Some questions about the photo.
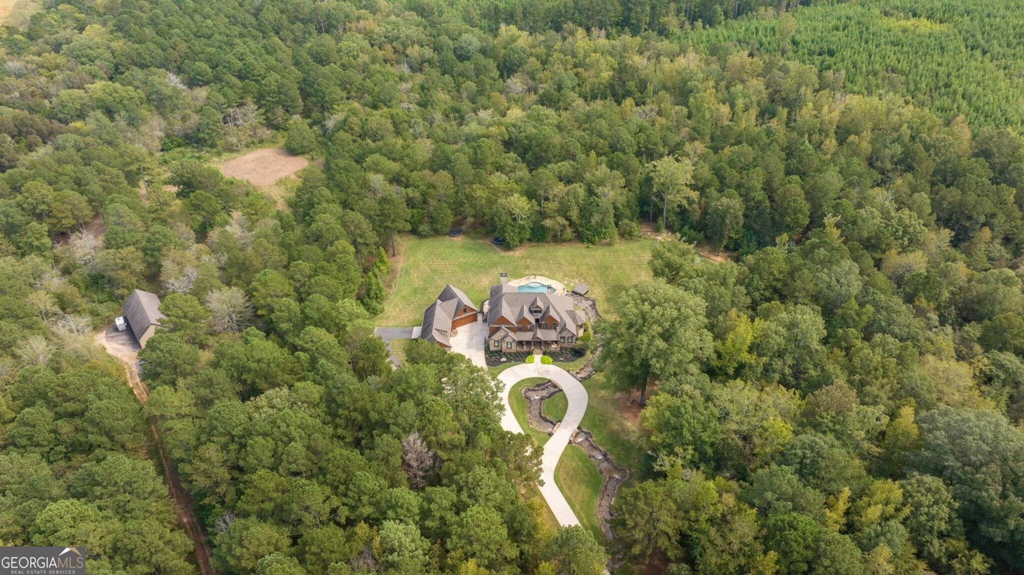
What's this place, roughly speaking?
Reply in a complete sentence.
The area seen from above is a forest.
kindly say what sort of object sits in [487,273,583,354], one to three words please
house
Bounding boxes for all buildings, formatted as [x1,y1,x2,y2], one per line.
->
[419,284,480,355]
[487,273,583,354]
[574,283,589,299]
[123,288,168,347]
